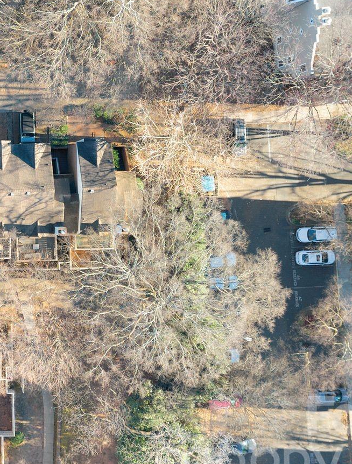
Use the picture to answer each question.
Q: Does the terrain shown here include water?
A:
No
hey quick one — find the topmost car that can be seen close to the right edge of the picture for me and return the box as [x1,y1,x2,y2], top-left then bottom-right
[295,226,336,243]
